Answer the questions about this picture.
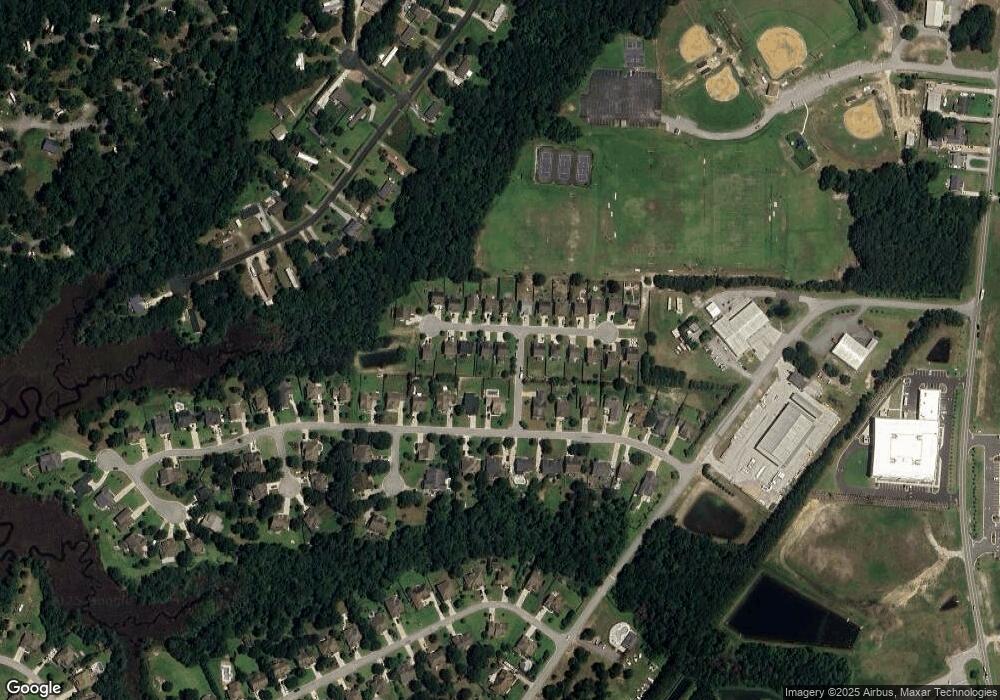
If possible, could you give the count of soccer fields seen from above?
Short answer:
2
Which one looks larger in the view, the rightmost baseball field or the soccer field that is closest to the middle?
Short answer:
the soccer field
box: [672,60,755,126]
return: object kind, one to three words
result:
baseball field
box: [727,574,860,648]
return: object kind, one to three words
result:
pond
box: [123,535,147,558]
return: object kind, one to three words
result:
house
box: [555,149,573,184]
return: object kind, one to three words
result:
tennis court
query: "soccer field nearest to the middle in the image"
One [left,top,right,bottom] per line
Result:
[619,152,683,262]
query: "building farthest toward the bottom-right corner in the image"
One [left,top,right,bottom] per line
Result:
[872,418,938,482]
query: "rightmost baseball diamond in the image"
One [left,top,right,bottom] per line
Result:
[826,93,890,158]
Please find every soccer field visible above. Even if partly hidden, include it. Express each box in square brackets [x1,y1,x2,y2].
[706,152,771,262]
[619,152,683,262]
